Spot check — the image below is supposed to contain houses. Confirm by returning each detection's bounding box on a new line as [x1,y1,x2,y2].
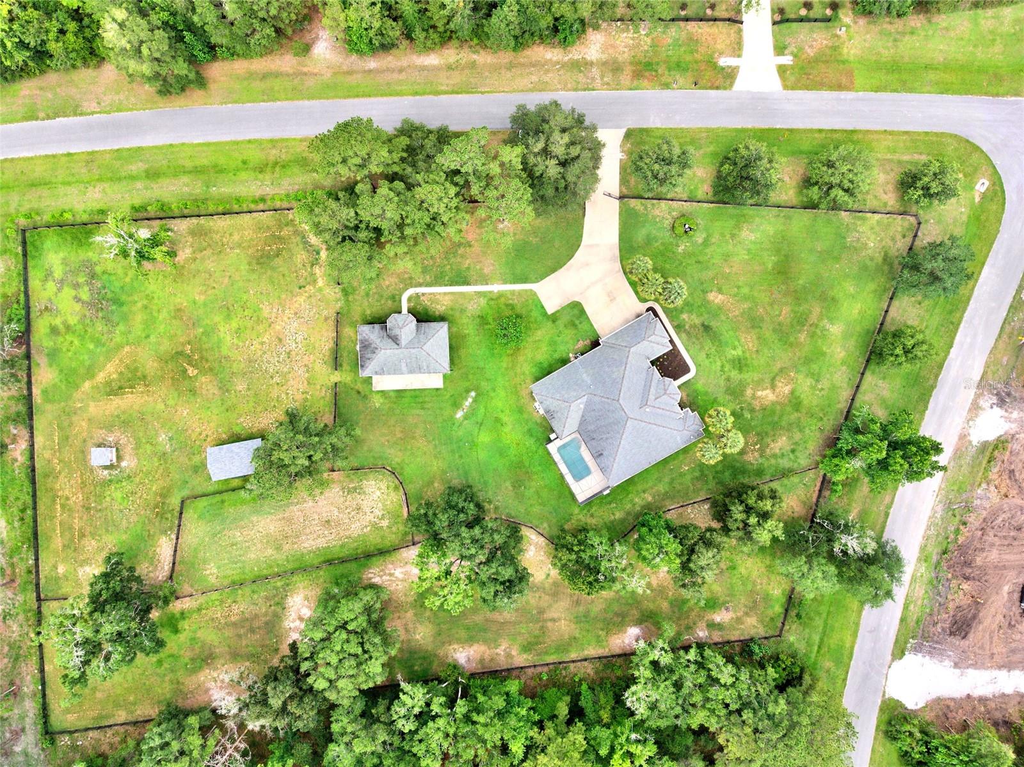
[529,311,706,488]
[355,313,450,390]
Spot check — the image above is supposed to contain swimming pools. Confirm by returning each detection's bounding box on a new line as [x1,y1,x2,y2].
[548,431,608,503]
